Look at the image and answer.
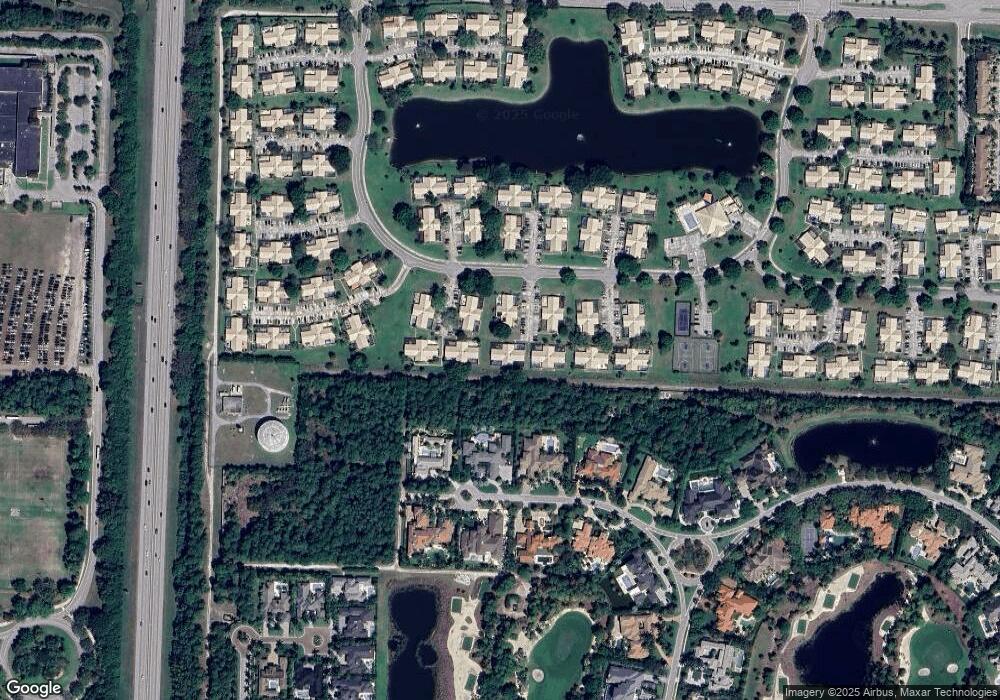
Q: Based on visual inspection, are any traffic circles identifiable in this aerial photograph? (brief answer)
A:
Yes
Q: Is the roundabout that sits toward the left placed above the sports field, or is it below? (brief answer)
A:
below it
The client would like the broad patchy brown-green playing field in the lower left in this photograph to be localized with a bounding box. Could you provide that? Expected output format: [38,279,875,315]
[0,438,65,592]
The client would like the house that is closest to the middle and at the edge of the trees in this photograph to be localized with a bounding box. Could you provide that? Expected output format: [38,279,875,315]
[491,343,524,365]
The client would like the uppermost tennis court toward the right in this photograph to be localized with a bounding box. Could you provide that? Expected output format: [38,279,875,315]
[675,301,691,336]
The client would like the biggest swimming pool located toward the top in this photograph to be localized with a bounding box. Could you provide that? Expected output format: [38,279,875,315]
[675,204,701,234]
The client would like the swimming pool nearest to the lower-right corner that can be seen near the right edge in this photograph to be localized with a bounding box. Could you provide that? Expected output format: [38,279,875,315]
[978,614,995,638]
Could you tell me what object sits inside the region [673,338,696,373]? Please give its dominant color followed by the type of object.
gray basketball court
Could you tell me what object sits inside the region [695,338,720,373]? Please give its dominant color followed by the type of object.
gray basketball court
